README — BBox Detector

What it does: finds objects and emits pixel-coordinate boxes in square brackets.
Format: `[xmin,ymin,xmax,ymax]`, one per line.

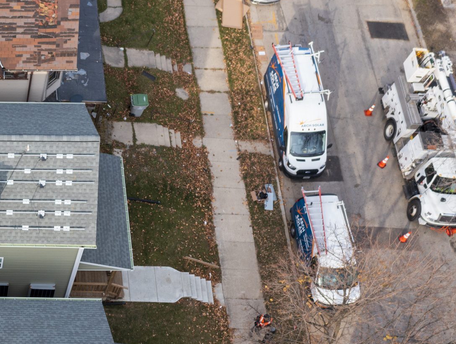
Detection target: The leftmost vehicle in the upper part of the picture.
[266,46,346,185]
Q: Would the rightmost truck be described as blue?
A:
No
